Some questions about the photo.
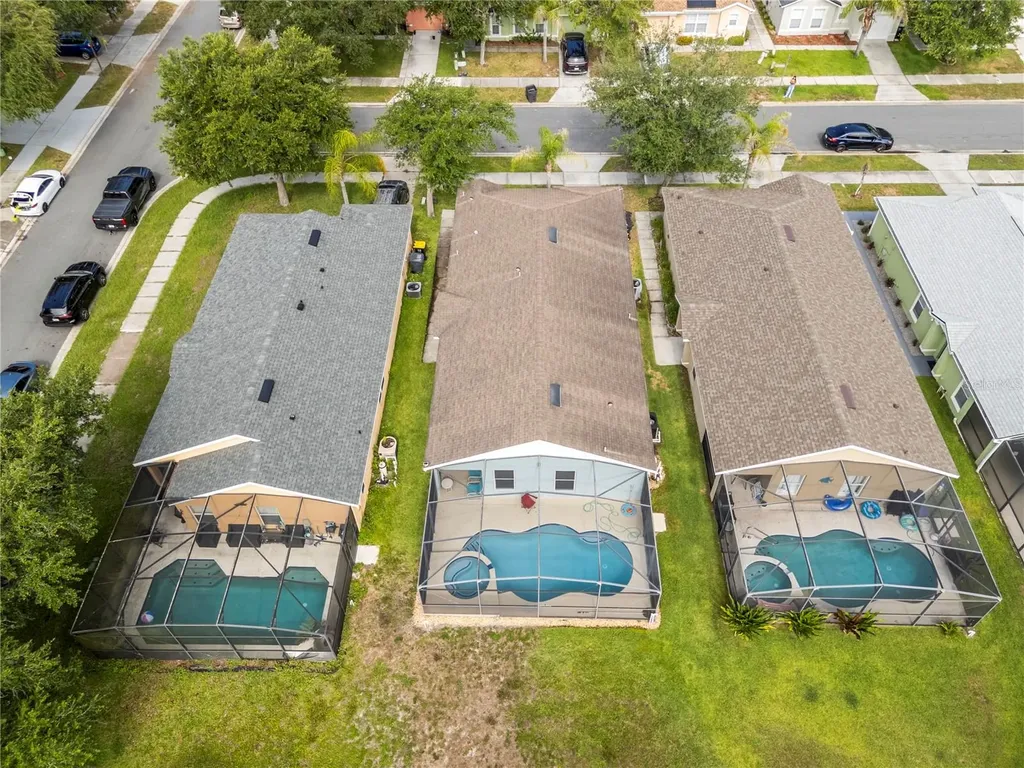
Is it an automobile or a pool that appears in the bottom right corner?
pool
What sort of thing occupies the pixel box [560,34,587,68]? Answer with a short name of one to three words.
car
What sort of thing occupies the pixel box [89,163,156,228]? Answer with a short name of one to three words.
truck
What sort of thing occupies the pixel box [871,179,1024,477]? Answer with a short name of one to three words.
house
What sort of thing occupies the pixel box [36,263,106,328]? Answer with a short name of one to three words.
car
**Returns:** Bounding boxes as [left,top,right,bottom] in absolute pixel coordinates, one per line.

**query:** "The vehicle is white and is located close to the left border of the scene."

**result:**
[0,166,64,215]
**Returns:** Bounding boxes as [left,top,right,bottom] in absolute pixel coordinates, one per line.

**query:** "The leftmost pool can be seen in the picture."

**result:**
[136,558,328,633]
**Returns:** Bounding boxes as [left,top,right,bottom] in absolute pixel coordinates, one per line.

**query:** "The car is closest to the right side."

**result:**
[819,119,900,152]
